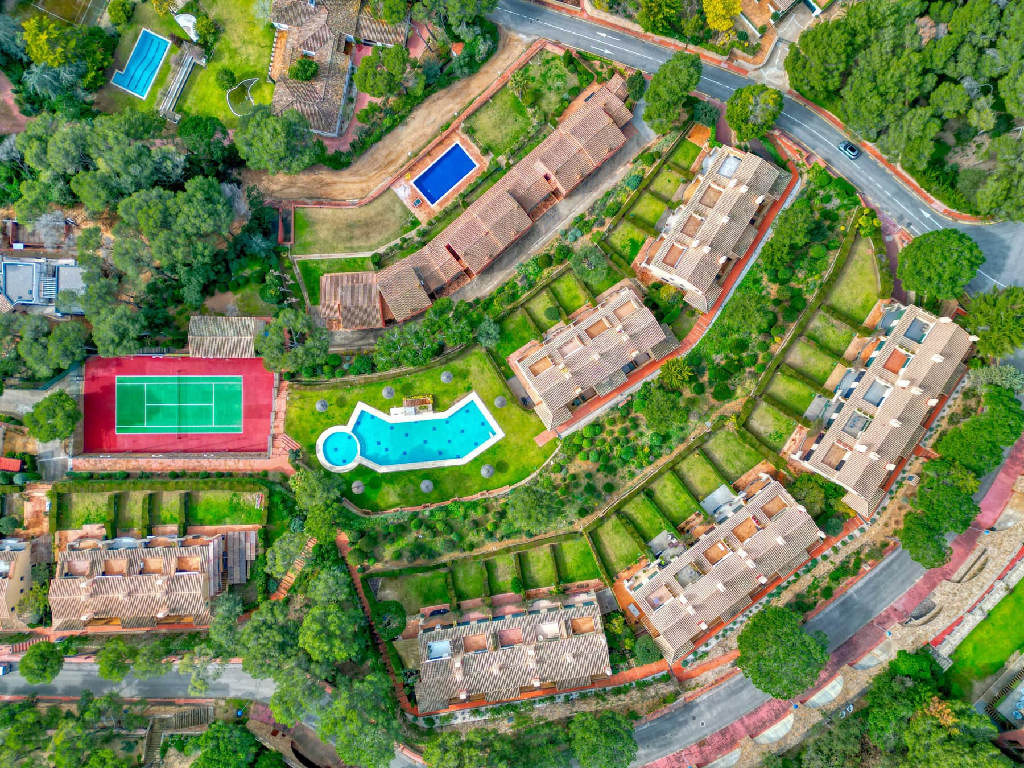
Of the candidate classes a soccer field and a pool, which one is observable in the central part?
pool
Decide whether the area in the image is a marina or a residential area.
residential area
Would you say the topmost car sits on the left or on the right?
right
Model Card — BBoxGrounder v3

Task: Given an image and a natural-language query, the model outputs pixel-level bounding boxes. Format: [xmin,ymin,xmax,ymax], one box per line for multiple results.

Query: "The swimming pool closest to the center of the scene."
[347,391,505,473]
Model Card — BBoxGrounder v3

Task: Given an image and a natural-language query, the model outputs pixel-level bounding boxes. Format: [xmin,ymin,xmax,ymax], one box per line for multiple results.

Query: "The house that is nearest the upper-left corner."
[0,263,98,315]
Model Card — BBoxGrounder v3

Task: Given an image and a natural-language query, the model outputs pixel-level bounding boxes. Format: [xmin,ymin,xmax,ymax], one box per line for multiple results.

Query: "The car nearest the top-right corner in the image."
[838,139,864,160]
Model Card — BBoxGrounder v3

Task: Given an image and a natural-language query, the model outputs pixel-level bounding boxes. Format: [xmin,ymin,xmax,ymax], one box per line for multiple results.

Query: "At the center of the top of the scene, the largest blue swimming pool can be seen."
[410,140,480,207]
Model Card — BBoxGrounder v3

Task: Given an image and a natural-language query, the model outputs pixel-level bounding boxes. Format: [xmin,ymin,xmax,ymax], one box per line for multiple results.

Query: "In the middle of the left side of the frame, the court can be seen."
[83,357,273,453]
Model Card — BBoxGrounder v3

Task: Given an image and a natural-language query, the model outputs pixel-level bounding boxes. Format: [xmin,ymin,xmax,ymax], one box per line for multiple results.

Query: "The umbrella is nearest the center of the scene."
[494,395,507,409]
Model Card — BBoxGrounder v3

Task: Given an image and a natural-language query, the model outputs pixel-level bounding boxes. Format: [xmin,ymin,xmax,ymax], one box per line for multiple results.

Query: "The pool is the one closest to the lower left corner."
[315,425,360,473]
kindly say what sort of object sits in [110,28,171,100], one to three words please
swimming pool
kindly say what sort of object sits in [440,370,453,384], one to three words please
umbrella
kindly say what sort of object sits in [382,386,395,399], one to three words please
umbrella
